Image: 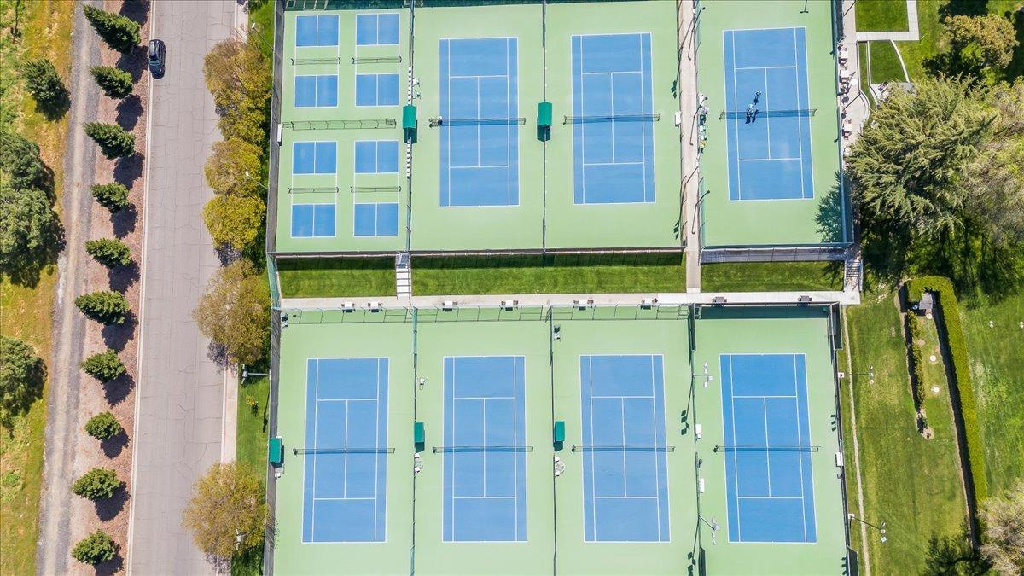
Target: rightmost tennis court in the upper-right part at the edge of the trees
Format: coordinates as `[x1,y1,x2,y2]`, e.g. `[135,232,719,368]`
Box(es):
[691,0,847,250]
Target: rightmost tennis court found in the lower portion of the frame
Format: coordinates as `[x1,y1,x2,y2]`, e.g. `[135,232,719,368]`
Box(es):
[691,304,847,576]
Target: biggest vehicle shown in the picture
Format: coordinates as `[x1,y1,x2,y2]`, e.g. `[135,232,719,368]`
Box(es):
[146,41,165,76]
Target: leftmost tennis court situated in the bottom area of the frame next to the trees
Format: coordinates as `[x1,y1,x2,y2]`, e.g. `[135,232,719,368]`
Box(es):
[273,309,415,576]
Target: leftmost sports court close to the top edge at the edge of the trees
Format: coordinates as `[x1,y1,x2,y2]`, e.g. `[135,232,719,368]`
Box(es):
[280,0,348,125]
